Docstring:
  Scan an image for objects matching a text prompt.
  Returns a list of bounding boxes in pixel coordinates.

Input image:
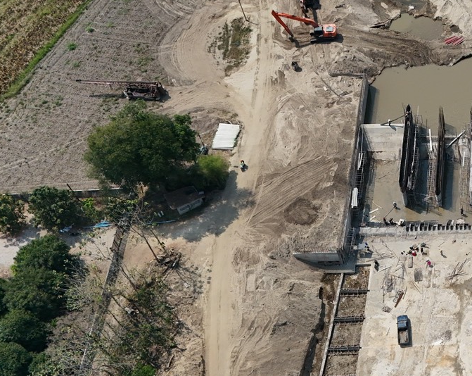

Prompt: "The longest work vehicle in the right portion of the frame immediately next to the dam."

[269,7,340,43]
